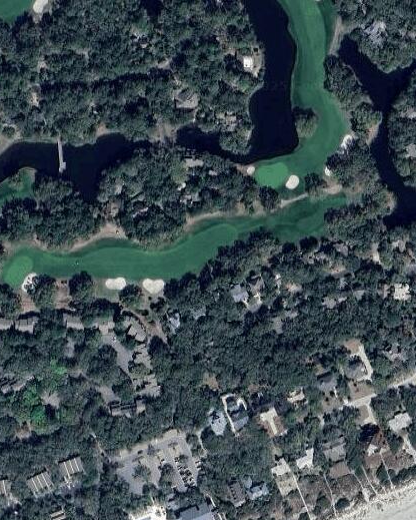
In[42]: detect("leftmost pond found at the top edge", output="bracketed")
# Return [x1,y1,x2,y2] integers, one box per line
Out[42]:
[178,0,299,164]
